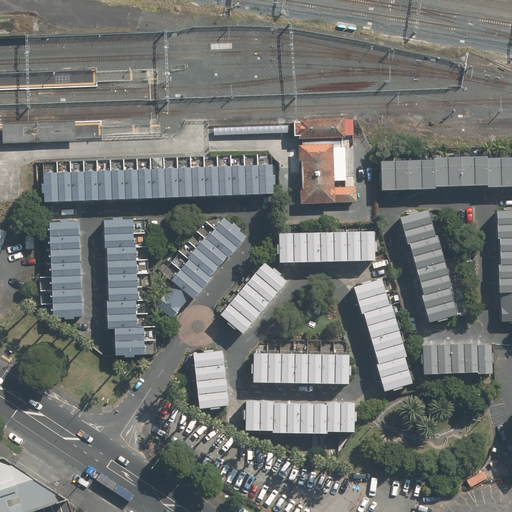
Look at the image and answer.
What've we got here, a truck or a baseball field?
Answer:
truck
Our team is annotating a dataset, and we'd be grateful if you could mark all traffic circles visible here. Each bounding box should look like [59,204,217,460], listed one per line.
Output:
[180,306,214,346]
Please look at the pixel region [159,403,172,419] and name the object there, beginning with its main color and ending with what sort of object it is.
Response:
red vehicle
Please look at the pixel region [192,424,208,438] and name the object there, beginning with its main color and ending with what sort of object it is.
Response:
white vehicle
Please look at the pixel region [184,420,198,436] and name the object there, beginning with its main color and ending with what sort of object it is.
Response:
white vehicle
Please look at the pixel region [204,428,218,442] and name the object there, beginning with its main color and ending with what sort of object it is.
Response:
white car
